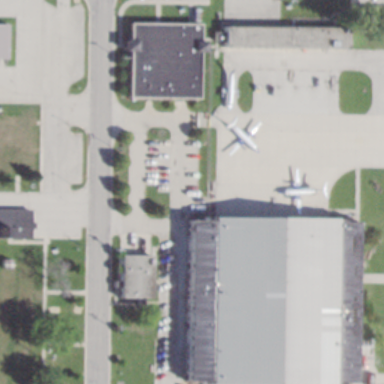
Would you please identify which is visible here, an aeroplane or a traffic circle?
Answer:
aeroplane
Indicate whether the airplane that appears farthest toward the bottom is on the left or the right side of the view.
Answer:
right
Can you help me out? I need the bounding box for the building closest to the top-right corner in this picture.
[218,26,348,51]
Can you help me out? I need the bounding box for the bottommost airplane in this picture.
[283,170,329,212]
